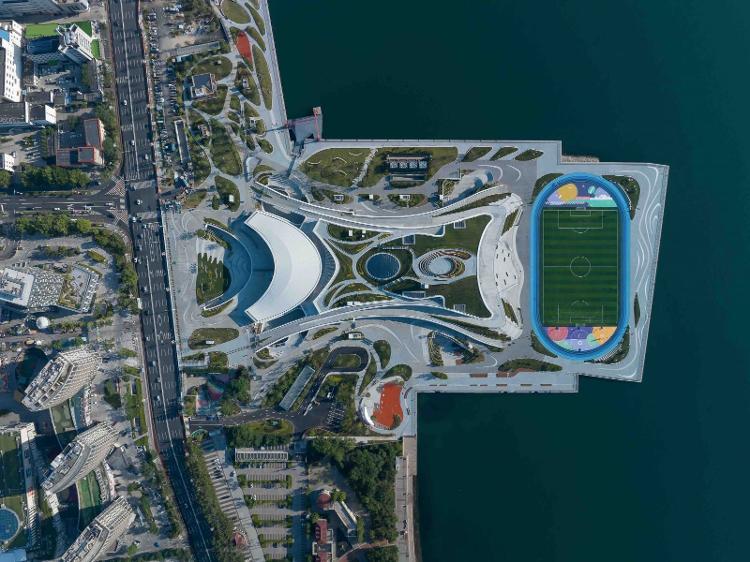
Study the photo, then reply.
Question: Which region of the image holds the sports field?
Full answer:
The sports field appears toward the right of the photo.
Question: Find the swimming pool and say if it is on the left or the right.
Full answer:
You can find the swimming pool on the left side of the picture.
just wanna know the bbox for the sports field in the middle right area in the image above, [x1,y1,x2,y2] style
[531,171,631,361]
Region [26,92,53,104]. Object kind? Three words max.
shed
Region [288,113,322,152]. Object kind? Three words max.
pier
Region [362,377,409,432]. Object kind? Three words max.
playground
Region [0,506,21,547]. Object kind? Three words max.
swimming pool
